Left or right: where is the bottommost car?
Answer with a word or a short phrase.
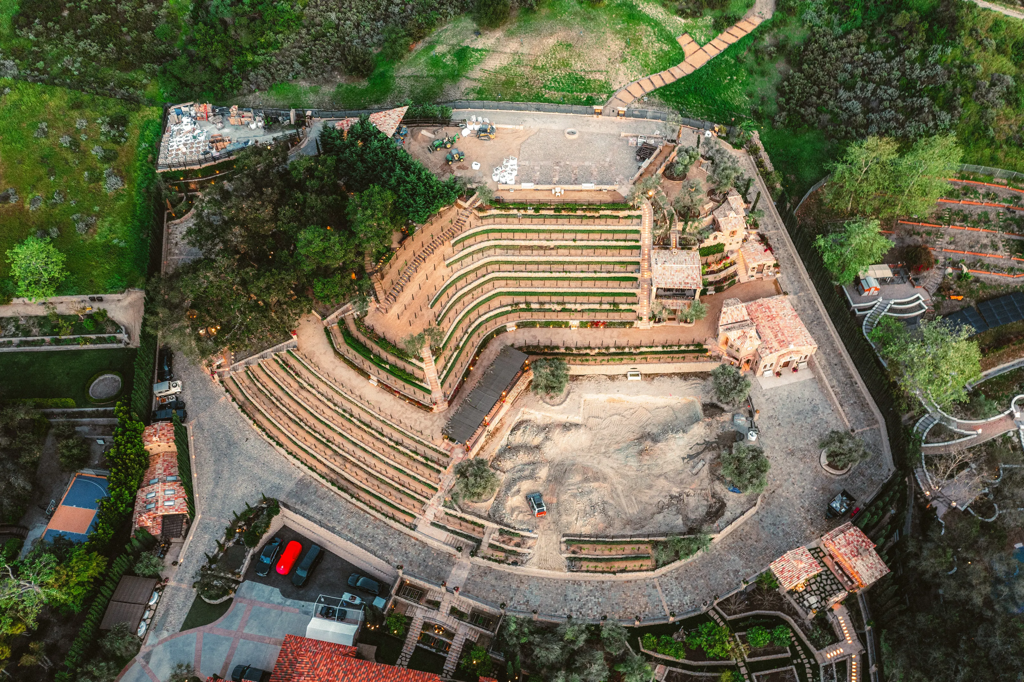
left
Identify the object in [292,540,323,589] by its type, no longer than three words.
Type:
car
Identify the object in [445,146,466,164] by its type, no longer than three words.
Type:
vehicle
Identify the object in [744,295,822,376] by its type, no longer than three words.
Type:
building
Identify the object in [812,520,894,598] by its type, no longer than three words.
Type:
building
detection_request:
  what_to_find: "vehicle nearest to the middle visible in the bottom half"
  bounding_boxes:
[526,490,548,518]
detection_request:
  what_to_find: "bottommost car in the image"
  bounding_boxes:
[225,661,272,682]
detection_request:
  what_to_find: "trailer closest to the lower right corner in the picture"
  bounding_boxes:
[827,489,863,521]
